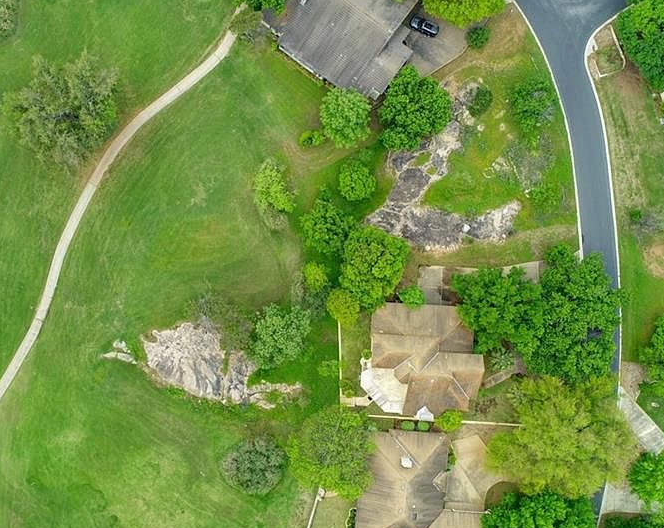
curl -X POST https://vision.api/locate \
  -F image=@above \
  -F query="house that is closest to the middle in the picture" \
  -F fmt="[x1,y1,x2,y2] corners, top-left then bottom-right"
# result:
[372,303,484,421]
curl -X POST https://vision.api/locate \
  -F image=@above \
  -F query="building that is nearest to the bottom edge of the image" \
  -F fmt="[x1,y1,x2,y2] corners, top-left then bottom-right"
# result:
[357,430,483,528]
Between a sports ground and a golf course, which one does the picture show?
golf course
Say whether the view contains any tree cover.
Yes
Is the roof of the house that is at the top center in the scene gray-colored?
Yes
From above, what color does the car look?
black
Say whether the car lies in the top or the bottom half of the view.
top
